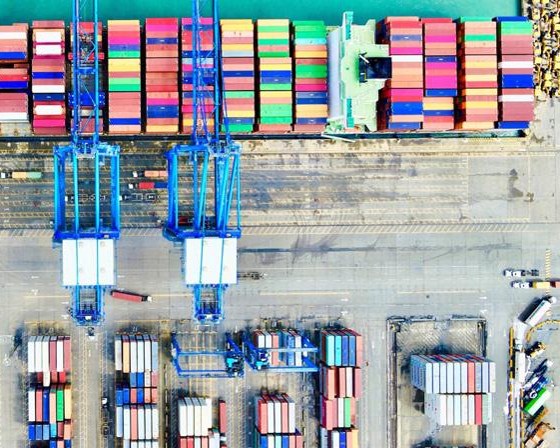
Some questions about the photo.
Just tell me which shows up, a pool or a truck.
truck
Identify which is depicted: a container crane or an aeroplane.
container crane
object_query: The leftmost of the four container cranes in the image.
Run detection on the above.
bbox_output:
[51,0,122,327]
